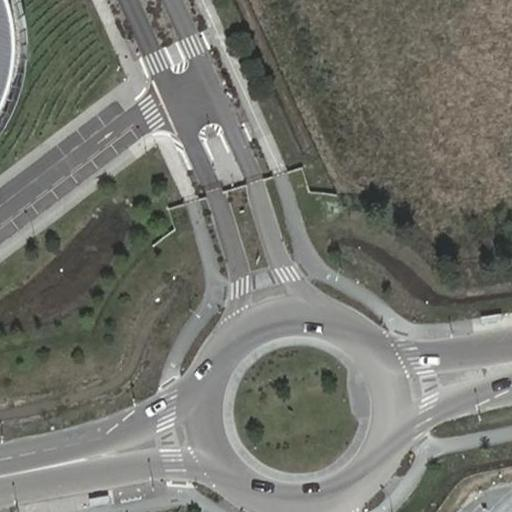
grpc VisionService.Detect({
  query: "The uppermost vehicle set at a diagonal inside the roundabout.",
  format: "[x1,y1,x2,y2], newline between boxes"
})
[196,360,212,378]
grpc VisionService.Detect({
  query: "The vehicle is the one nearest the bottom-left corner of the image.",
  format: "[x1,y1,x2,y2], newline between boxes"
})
[146,400,166,415]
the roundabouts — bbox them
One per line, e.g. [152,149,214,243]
[150,279,448,512]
